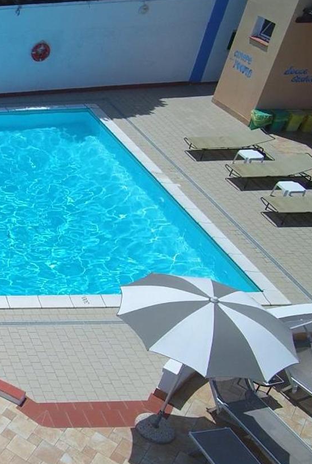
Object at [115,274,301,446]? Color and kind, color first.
white umbrella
